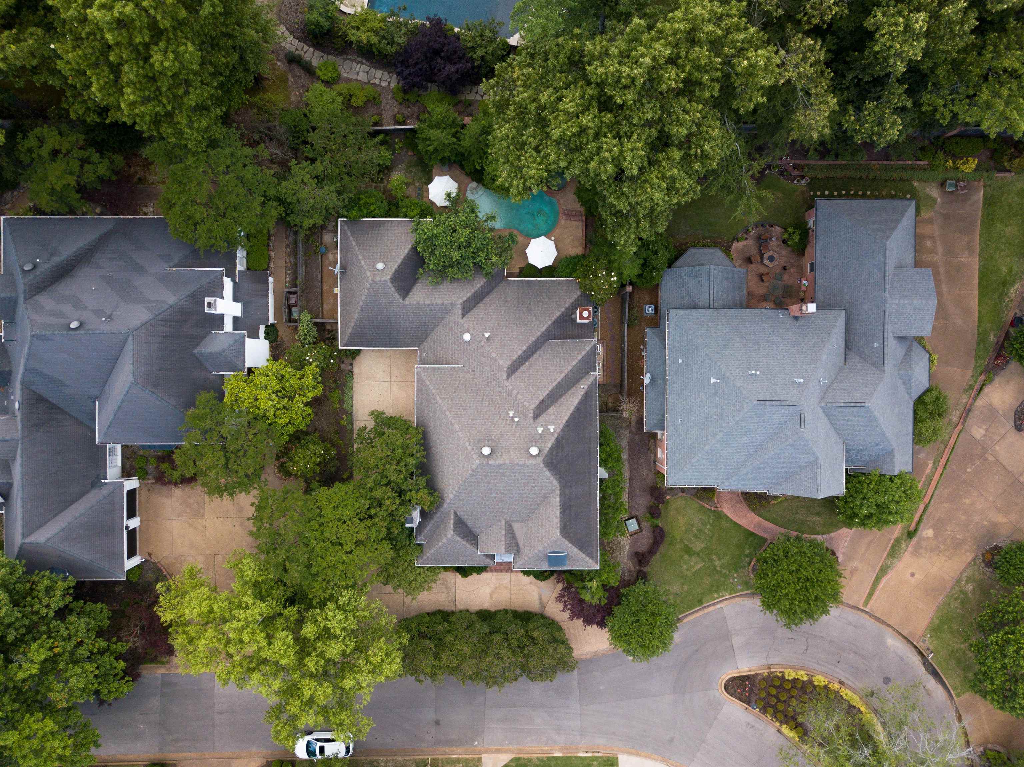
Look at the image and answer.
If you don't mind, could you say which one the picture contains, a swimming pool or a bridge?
swimming pool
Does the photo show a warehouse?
No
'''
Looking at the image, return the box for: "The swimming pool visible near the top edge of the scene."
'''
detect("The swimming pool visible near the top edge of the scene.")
[364,0,519,44]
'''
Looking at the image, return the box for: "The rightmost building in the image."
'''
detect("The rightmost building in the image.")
[642,198,937,499]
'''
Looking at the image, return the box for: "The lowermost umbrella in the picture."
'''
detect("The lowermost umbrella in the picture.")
[525,236,558,268]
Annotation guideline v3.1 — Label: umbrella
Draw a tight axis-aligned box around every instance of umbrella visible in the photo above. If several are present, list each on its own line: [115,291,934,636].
[428,175,458,204]
[525,236,558,268]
